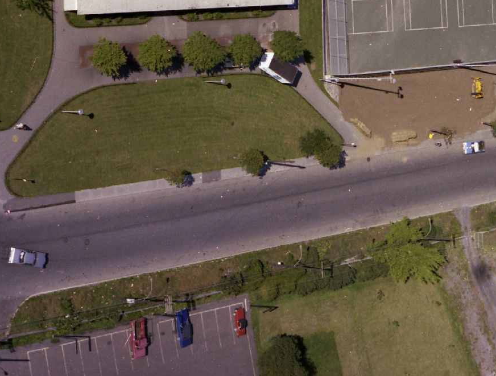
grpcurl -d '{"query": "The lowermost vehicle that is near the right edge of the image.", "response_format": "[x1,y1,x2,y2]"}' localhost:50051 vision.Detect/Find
[463,141,485,154]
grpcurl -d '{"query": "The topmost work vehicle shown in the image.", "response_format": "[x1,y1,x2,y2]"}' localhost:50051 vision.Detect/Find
[471,74,484,98]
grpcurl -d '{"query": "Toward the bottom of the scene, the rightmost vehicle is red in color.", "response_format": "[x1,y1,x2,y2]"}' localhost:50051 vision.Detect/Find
[233,307,247,337]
